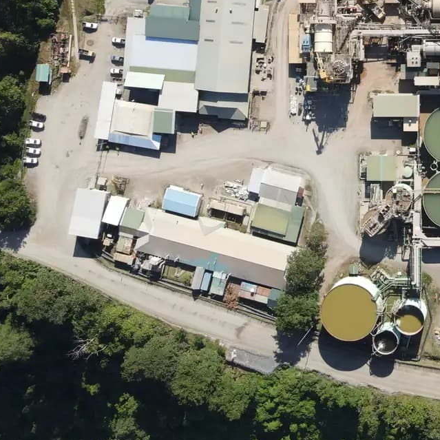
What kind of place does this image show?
industrial area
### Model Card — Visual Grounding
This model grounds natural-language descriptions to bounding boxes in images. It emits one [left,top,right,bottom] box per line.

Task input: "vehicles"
[29,120,45,128]
[108,68,124,75]
[24,139,41,145]
[81,22,98,29]
[22,157,39,165]
[77,48,95,56]
[31,114,46,122]
[110,37,126,44]
[109,55,125,62]
[24,147,41,155]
